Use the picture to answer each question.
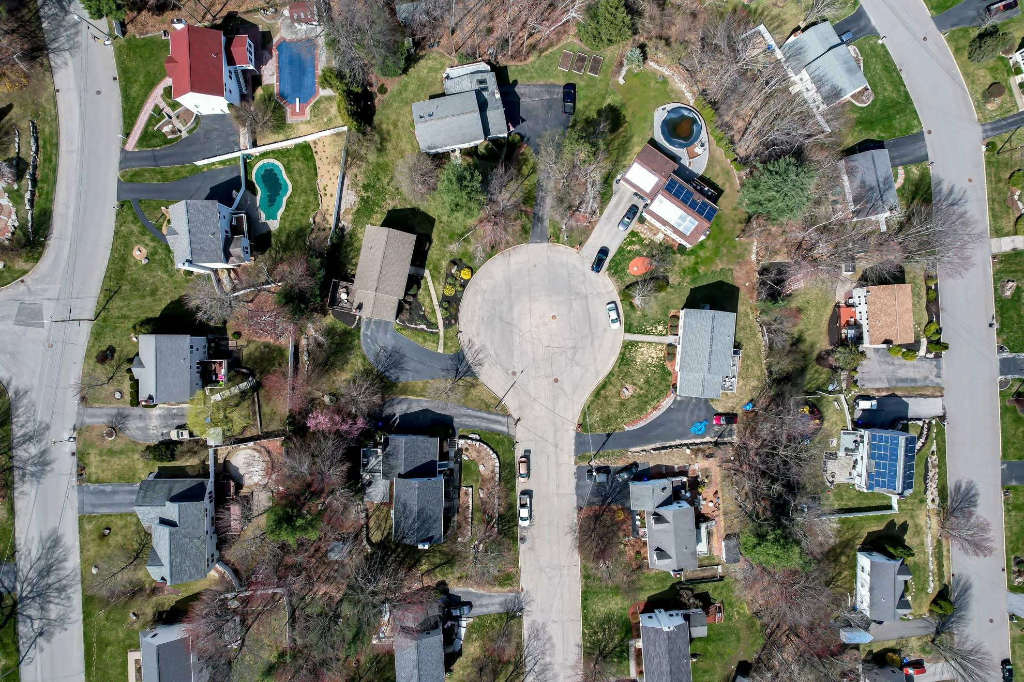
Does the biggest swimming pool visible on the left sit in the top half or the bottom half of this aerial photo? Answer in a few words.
top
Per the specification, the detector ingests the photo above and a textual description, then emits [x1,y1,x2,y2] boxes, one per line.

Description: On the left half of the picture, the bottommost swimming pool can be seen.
[252,158,292,223]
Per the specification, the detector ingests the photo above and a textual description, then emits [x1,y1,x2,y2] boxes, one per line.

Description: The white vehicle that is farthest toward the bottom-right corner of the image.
[851,397,879,410]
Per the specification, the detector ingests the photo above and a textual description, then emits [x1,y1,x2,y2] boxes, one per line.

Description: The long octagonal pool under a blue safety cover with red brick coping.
[273,35,321,119]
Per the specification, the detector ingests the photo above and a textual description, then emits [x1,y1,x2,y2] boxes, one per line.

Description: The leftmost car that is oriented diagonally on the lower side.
[614,461,640,483]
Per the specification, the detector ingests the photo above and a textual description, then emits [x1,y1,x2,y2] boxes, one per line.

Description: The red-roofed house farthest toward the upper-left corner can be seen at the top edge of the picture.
[162,17,262,111]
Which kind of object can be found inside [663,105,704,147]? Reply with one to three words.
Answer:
swimming pool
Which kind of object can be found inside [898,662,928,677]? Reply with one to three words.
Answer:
car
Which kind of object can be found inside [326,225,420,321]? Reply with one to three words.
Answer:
house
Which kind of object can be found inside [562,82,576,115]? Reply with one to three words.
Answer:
vehicle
